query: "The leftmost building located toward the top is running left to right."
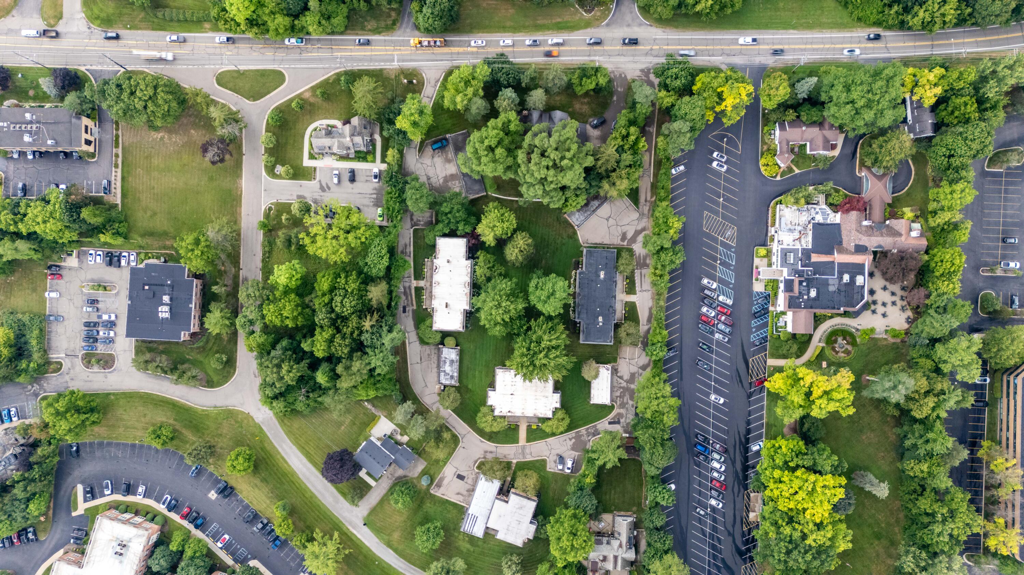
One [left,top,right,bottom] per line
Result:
[0,107,99,155]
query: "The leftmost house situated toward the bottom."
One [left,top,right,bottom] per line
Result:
[0,425,32,470]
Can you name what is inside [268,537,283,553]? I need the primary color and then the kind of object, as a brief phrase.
blue vehicle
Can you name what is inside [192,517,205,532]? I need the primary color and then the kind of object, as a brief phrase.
blue vehicle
